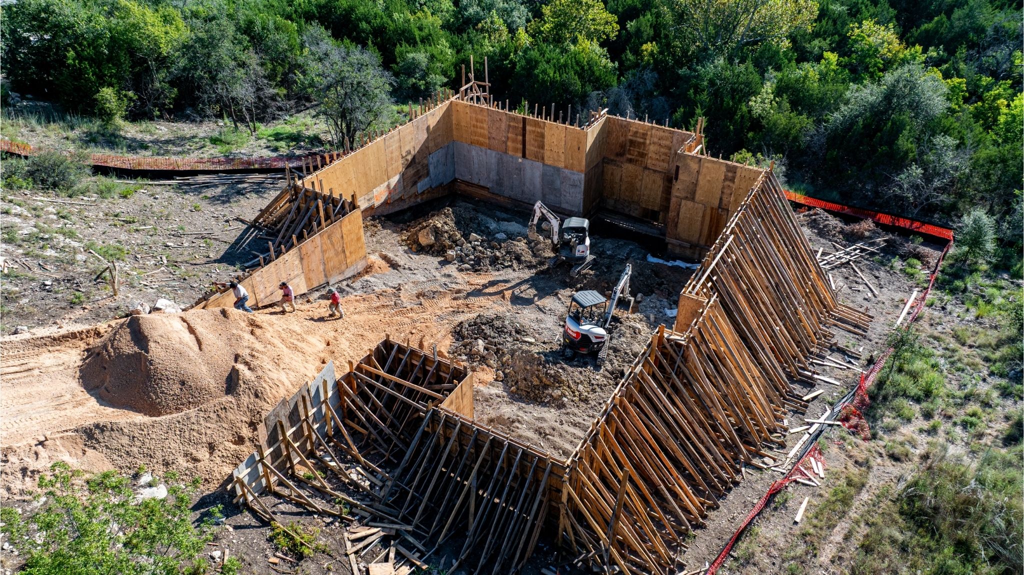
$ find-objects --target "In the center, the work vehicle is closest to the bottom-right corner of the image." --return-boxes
[560,268,640,363]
